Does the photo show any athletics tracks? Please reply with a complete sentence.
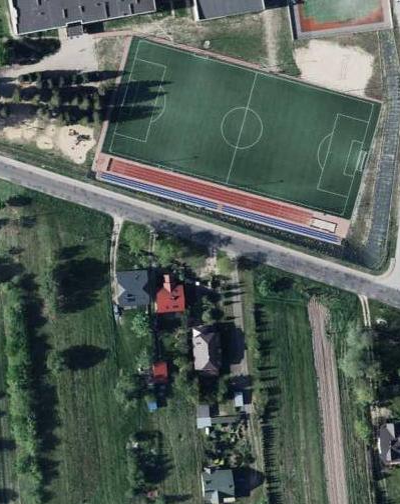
Yes, the image includes an athletics track.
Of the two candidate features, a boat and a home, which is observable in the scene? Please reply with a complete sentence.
I can see a home in this picture.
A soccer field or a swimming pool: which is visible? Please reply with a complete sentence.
It is a soccer field that can be seen here.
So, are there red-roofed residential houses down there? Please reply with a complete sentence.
Yes, there's a red-roofed residential house down there.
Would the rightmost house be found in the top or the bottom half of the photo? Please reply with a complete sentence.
The bottom half of the photo is where the rightmost house is.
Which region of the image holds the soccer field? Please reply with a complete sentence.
The soccer field is in the top part of the image.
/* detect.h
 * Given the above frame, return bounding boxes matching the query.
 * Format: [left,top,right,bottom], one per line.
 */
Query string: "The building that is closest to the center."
[156,273,185,313]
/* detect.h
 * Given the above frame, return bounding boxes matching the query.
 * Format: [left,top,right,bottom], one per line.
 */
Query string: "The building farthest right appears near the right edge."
[376,424,400,465]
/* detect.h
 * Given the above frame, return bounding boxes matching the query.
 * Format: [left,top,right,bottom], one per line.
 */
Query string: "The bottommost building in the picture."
[203,467,235,504]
